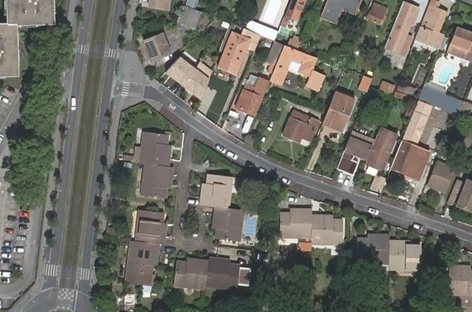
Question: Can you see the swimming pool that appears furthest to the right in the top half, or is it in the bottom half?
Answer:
top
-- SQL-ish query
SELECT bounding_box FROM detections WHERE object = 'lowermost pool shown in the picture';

[240,214,258,244]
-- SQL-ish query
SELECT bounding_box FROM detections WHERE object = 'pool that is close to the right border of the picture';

[432,54,470,88]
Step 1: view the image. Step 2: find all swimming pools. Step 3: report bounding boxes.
[240,214,258,244]
[432,54,470,88]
